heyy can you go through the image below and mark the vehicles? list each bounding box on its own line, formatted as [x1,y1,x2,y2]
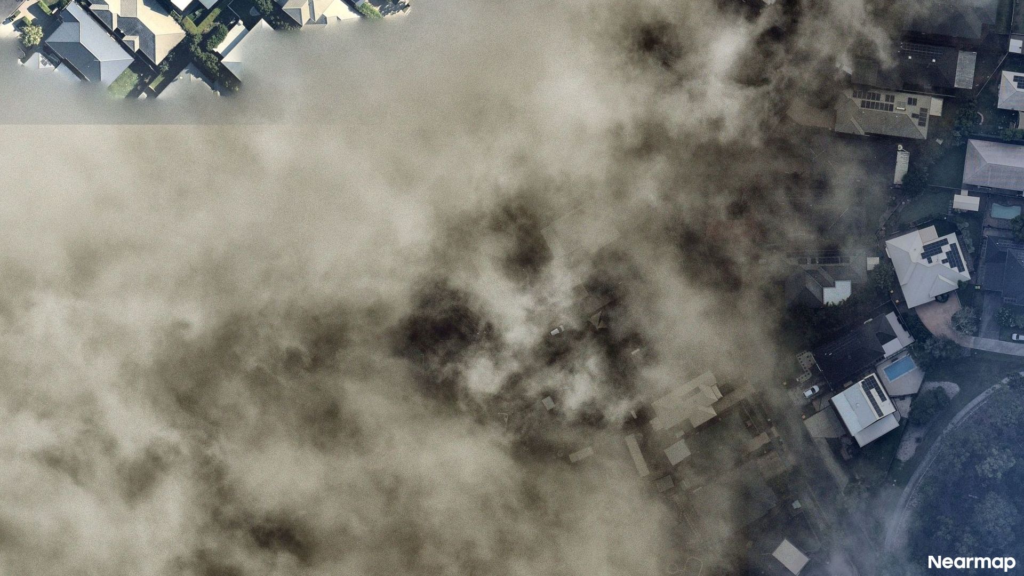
[802,385,819,398]
[1011,333,1024,341]
[548,324,565,336]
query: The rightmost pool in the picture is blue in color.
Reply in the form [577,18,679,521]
[990,202,1022,220]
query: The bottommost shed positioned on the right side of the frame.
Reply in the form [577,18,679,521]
[772,539,808,576]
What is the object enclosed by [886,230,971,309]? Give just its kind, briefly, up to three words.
house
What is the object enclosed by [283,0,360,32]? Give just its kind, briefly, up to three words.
house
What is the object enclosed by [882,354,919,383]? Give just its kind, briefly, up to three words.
swimming pool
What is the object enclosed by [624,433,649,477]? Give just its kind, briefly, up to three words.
shed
